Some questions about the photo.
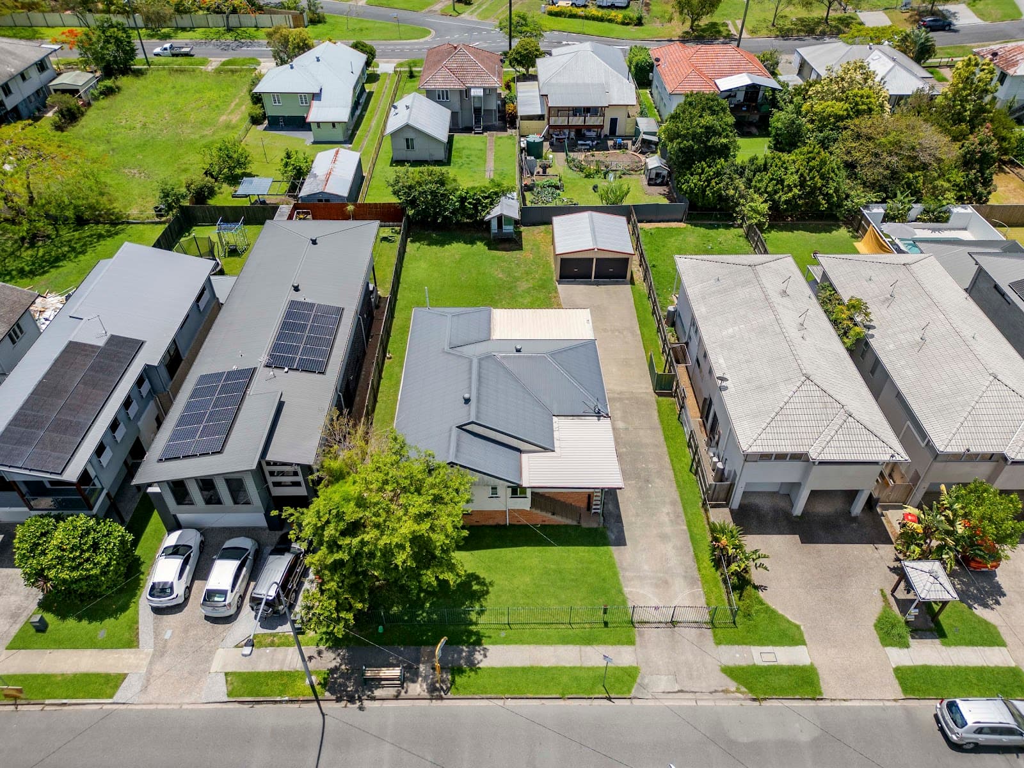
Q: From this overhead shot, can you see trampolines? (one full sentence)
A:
Yes, a trampoline can be made out from above.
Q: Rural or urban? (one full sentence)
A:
The area is urban.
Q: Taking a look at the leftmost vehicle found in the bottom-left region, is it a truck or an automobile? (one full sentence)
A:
I'd say the leftmost vehicle found in the bottom-left region is an automobile.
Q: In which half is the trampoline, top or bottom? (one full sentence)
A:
The top half of the photo is where the trampoline is.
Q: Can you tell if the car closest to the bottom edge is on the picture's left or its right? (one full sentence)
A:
You can find the car closest to the bottom edge on the right side of the picture.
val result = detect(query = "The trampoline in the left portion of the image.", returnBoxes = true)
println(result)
[167,227,222,262]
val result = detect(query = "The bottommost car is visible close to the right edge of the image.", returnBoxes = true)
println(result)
[933,690,1024,749]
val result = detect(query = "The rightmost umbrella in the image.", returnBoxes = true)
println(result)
[877,222,916,244]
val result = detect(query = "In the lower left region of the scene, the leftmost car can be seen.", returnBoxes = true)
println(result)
[144,527,209,606]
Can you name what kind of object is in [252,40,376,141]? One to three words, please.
house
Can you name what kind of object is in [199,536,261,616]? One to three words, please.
car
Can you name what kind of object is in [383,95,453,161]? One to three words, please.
building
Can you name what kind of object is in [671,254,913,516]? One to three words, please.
house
